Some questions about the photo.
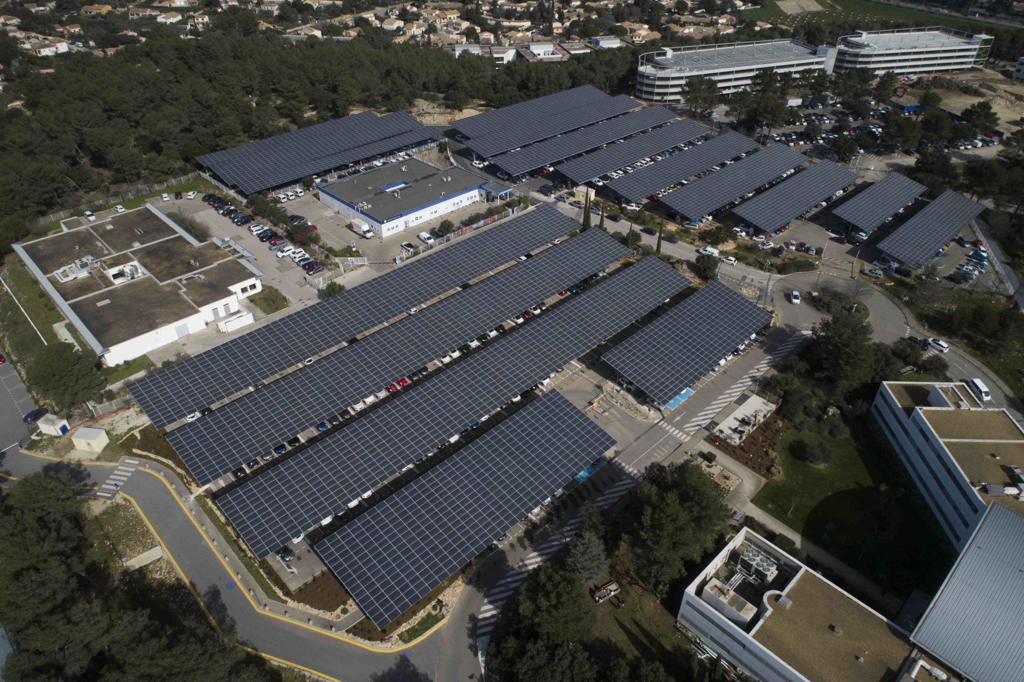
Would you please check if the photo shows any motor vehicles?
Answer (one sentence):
Yes, looking at the shot, I can spot a motor vehicle.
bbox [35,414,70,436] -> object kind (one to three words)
shed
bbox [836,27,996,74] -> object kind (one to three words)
building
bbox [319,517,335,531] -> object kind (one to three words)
car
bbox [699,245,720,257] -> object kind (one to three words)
vehicle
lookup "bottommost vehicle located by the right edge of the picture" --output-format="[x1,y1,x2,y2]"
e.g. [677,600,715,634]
[969,377,991,400]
